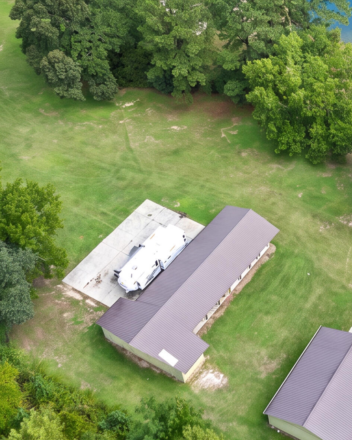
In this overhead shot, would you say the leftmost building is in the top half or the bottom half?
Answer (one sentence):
Seen from above, the leftmost building lies in the bottom half of the view.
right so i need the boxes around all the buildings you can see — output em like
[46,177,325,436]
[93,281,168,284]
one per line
[95,204,280,382]
[262,325,352,440]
